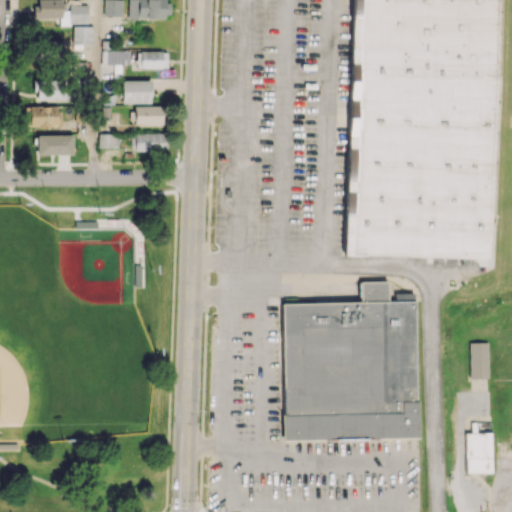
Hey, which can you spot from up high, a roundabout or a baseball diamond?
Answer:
baseball diamond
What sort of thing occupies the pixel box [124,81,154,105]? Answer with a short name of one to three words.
house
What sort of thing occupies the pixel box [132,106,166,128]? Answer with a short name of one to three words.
house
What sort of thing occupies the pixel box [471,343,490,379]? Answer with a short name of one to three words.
building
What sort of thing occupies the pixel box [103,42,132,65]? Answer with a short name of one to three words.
building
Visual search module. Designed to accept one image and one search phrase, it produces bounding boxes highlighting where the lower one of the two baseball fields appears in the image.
[0,345,148,444]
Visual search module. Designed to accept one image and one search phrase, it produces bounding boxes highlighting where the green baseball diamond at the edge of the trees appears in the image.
[0,206,154,442]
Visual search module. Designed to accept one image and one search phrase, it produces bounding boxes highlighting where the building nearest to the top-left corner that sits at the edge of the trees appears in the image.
[35,0,72,28]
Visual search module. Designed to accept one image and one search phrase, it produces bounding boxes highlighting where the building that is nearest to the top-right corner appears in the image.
[346,0,504,269]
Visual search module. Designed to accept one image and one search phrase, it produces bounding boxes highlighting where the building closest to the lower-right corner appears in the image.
[466,422,495,476]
